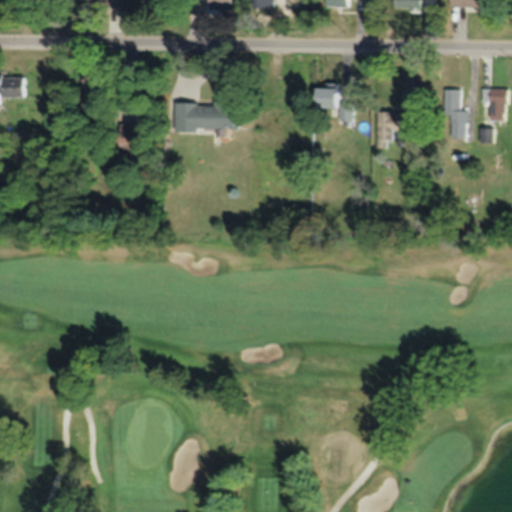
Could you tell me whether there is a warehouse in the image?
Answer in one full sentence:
No, there's no warehouse here.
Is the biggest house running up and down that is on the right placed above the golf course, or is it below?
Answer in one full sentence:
Looking at the photo, you'll find the biggest house running up and down that is on the right above the golf course.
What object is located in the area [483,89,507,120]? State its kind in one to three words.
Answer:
house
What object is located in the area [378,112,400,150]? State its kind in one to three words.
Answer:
house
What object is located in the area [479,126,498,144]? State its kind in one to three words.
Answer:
shed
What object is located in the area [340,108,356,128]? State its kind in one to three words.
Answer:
building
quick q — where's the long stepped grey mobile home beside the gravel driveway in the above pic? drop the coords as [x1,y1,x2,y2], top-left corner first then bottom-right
[445,87,470,143]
